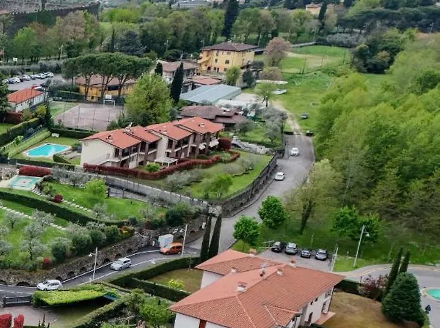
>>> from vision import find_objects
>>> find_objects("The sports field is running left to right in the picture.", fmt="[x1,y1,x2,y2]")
[280,51,336,70]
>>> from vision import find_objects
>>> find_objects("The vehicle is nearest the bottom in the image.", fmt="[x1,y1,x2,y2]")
[35,278,64,292]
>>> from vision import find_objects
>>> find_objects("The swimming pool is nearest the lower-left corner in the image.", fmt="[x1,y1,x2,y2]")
[0,175,41,192]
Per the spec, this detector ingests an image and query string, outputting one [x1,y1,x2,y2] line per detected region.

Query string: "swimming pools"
[0,175,41,192]
[21,142,71,160]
